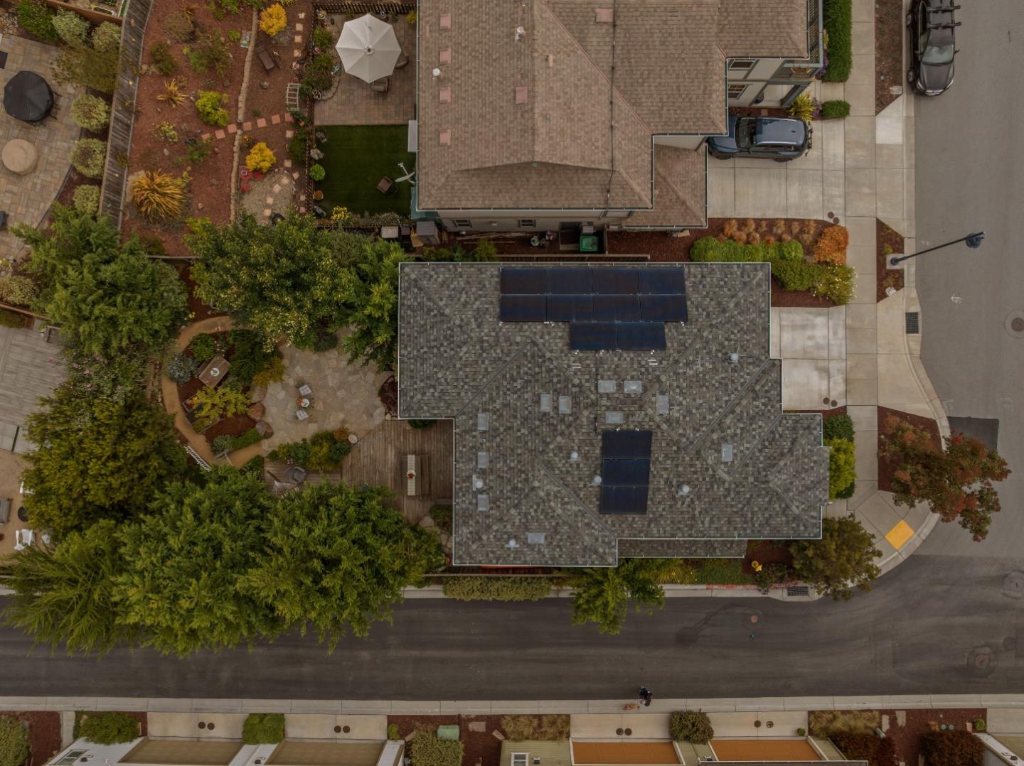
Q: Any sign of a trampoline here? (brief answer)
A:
No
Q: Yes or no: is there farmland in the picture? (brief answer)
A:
No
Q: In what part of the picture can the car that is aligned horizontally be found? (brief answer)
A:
top right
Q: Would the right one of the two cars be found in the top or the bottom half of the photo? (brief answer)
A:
top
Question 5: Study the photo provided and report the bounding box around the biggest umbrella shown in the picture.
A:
[338,20,402,85]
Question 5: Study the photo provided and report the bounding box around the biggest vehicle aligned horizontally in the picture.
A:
[708,107,825,160]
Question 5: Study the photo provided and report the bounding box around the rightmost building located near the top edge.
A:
[416,0,825,231]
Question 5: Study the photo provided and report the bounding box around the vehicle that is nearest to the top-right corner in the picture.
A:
[906,0,970,99]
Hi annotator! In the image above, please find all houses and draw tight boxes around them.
[399,262,830,568]
[975,734,1024,766]
[500,740,869,766]
[416,0,825,231]
[46,737,404,766]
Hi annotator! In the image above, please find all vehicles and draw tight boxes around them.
[906,0,970,99]
[708,107,825,160]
